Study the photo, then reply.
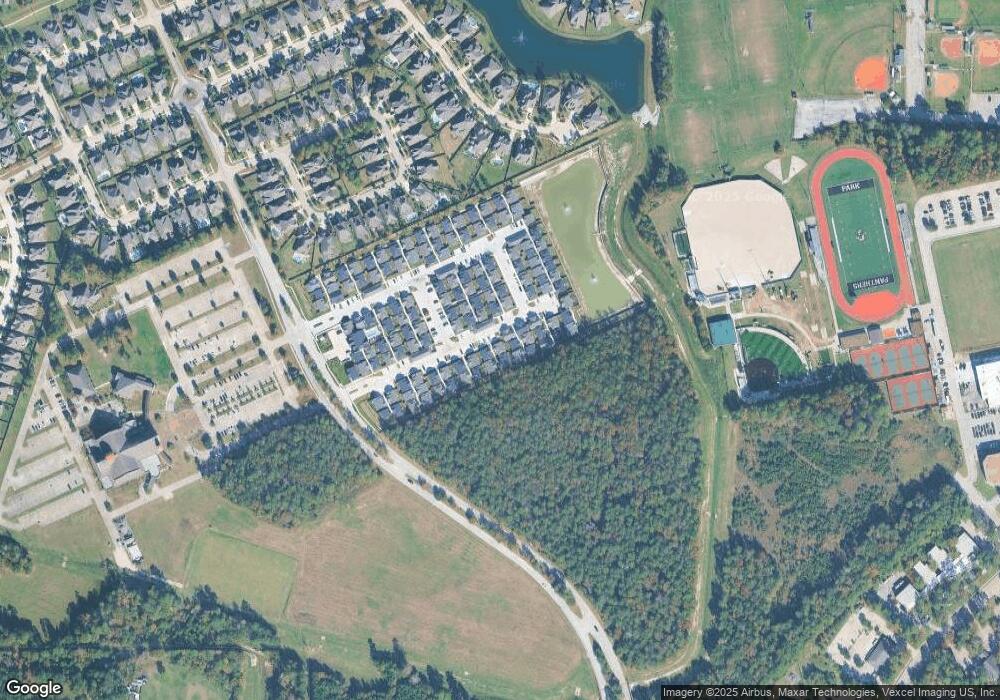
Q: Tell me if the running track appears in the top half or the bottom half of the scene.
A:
top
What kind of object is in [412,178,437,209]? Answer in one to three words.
house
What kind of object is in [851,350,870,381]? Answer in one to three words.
tennis court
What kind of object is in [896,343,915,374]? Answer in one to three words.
tennis court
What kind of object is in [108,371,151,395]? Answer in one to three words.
building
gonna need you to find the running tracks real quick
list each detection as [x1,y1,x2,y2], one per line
[812,148,908,322]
